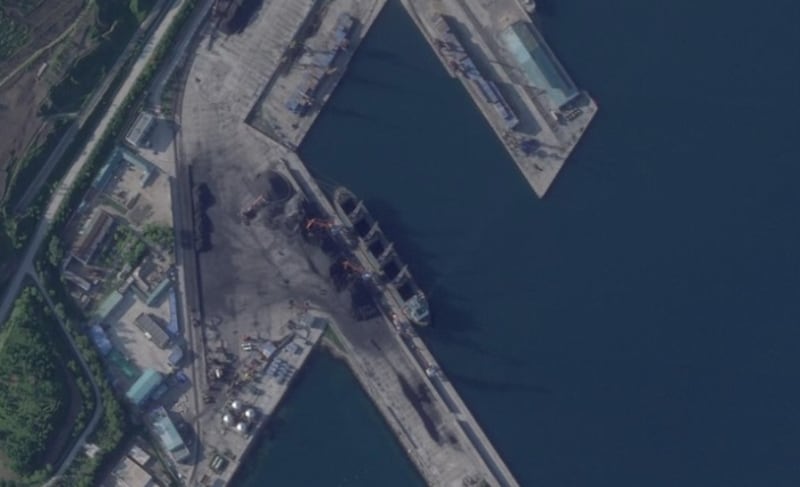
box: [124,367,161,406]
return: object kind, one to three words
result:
building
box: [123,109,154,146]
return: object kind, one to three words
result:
building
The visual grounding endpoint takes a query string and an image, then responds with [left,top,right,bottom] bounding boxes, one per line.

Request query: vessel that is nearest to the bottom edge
[318,176,430,347]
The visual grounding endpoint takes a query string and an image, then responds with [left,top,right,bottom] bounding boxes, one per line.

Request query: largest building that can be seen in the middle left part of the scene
[71,208,112,263]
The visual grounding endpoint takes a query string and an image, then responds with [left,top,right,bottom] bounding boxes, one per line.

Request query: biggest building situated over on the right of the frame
[504,19,580,109]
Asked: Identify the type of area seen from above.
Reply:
port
